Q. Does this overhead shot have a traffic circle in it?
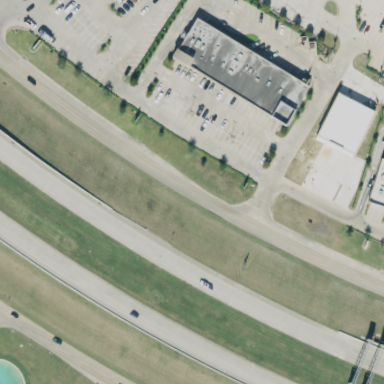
No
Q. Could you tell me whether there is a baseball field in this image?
No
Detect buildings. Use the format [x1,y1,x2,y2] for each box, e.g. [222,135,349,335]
[318,93,376,154]
[172,18,309,127]
[369,156,384,206]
